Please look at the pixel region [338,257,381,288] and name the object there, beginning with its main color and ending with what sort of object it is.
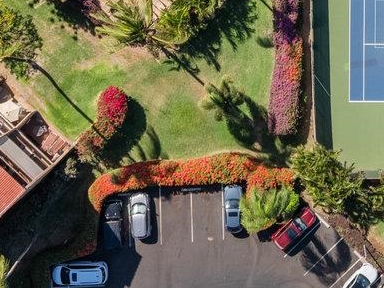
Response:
white car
